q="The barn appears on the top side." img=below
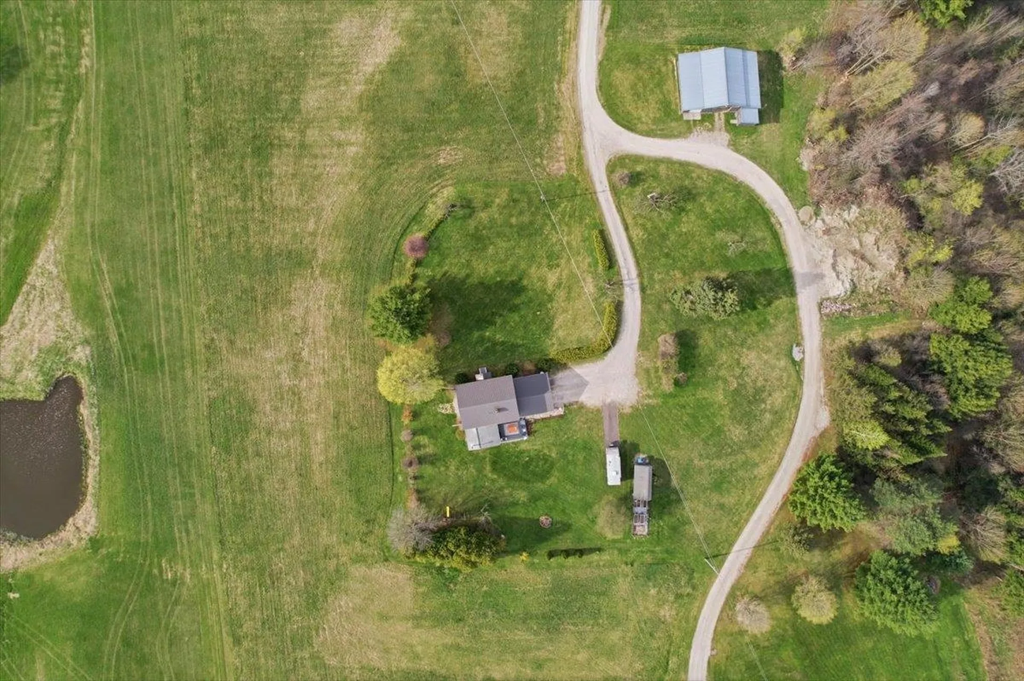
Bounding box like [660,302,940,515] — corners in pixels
[675,46,761,130]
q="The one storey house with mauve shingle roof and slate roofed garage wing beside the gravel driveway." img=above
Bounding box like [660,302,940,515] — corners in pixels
[457,373,551,450]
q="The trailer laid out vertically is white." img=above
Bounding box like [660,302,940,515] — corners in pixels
[605,439,621,485]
